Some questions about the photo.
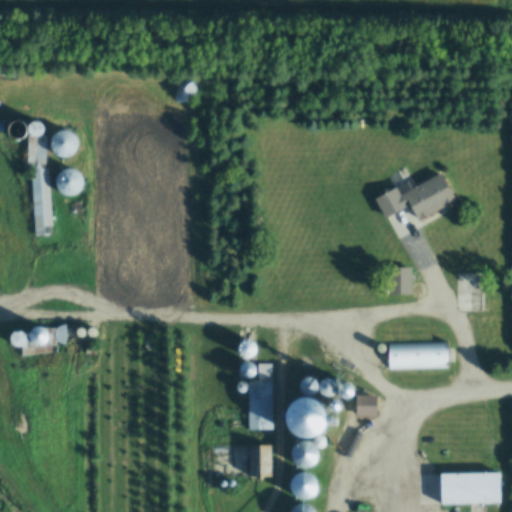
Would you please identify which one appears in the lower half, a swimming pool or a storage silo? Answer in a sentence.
What appears in the lower half is a storage silo.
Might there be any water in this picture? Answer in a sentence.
No, the scene doesn't show any water.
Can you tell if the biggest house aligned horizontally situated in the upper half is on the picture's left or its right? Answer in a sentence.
The biggest house aligned horizontally situated in the upper half appears in the right half of the scene.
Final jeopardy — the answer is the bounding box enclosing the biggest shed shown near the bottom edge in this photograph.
[442,472,502,506]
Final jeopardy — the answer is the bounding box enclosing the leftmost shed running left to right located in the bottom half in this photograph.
[21,342,56,357]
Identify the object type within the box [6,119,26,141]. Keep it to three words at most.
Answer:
silo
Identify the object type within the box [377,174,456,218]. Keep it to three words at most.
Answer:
house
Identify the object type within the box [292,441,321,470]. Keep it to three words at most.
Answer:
silo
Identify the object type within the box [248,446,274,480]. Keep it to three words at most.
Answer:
barn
